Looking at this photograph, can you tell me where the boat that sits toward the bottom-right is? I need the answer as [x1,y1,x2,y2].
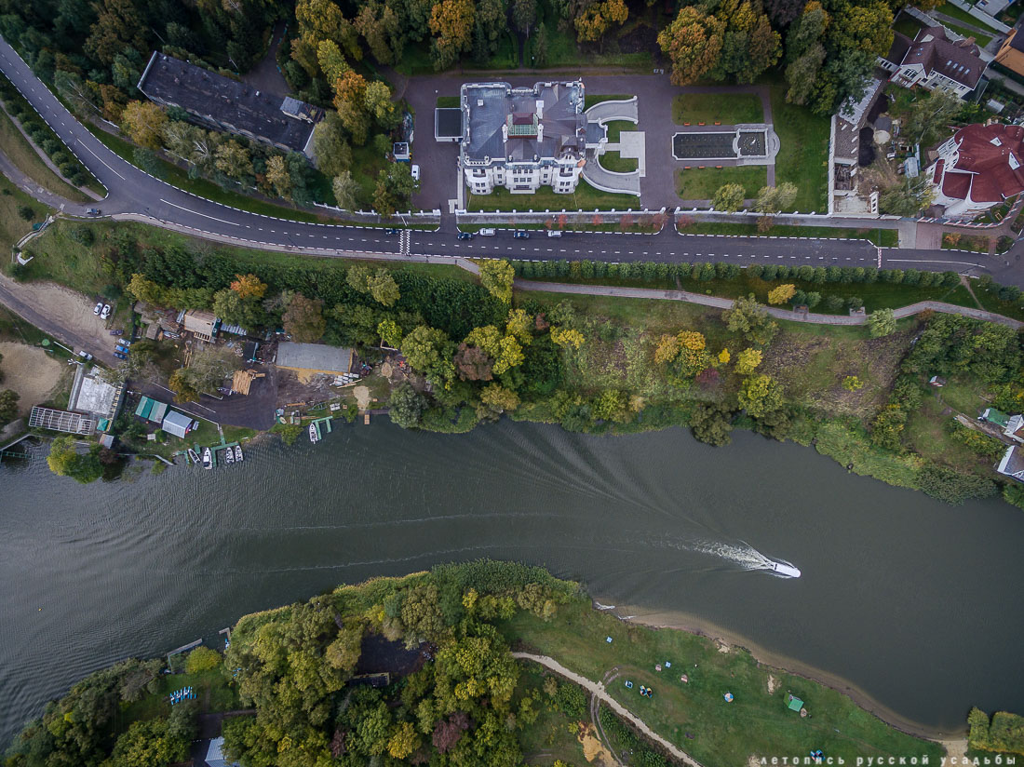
[765,560,802,578]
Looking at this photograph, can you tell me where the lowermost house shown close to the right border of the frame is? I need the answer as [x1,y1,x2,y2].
[989,444,1024,486]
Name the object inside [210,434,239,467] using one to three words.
pier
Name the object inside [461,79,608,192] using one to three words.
house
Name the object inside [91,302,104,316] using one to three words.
vehicle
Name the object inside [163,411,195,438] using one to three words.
shed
